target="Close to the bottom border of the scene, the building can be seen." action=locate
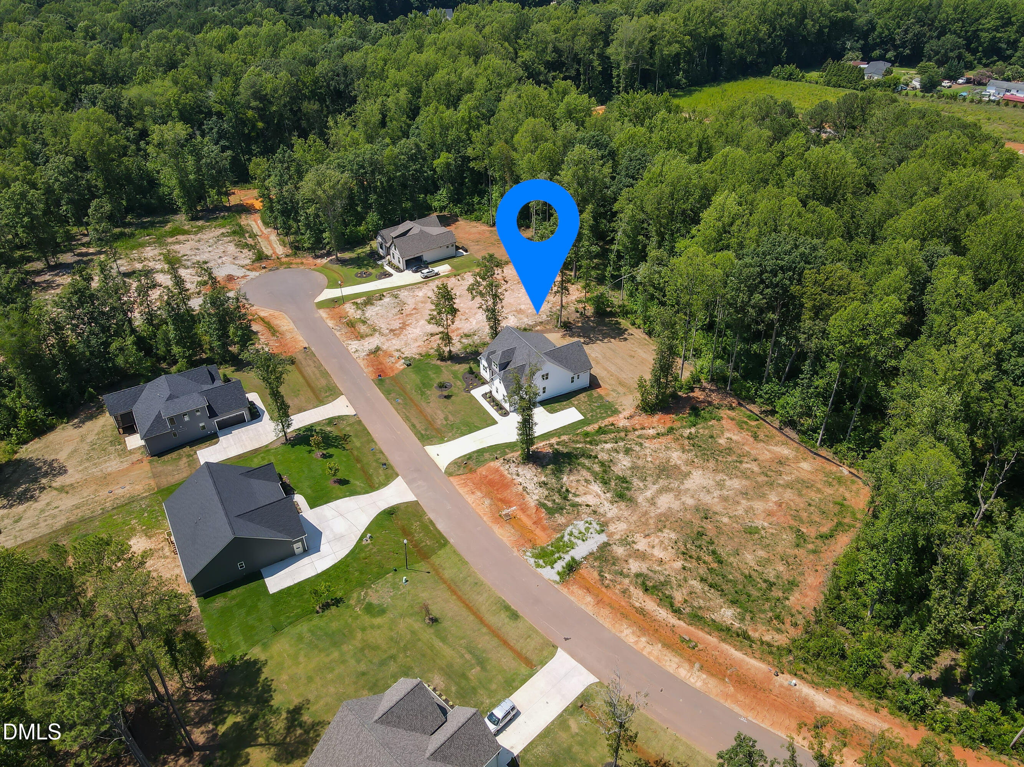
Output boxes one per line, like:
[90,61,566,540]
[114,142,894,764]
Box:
[295,671,503,767]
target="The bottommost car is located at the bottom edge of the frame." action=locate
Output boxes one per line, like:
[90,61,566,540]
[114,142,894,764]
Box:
[484,695,519,735]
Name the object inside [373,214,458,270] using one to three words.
house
